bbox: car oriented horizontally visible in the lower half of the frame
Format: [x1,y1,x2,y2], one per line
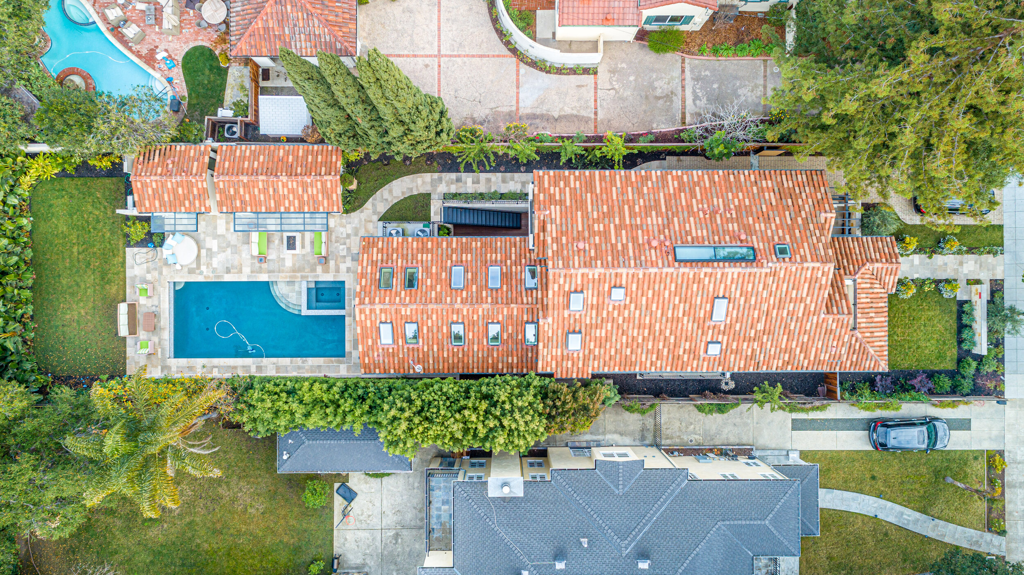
[867,416,948,455]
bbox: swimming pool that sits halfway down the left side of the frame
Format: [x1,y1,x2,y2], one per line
[164,275,351,365]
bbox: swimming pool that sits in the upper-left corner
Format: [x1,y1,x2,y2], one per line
[38,0,172,123]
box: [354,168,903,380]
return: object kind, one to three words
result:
house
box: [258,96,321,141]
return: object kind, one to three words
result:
shed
